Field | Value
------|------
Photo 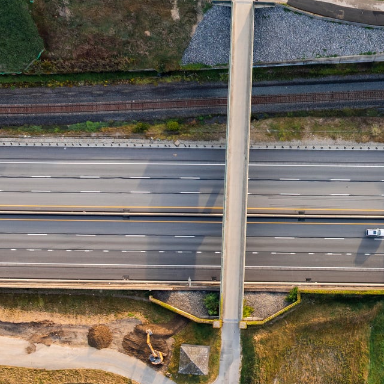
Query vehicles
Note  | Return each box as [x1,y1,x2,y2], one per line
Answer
[366,228,384,237]
[144,329,163,369]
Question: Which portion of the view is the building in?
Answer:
bottom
